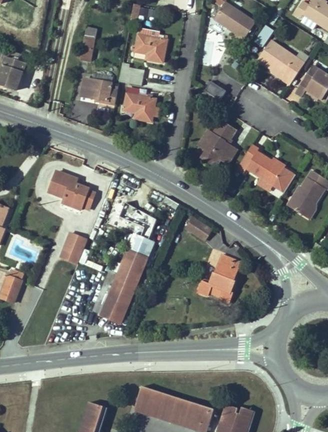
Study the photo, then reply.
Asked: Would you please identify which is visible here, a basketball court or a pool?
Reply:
pool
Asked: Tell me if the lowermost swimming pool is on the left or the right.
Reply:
left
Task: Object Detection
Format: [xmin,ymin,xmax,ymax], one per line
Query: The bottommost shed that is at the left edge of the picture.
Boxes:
[0,270,24,303]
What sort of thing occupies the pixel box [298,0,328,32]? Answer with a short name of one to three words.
house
